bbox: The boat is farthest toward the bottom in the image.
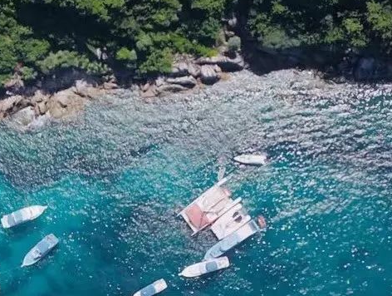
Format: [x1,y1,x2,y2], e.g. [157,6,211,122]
[133,278,169,296]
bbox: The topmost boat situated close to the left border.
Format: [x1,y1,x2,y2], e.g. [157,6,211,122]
[0,205,48,229]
